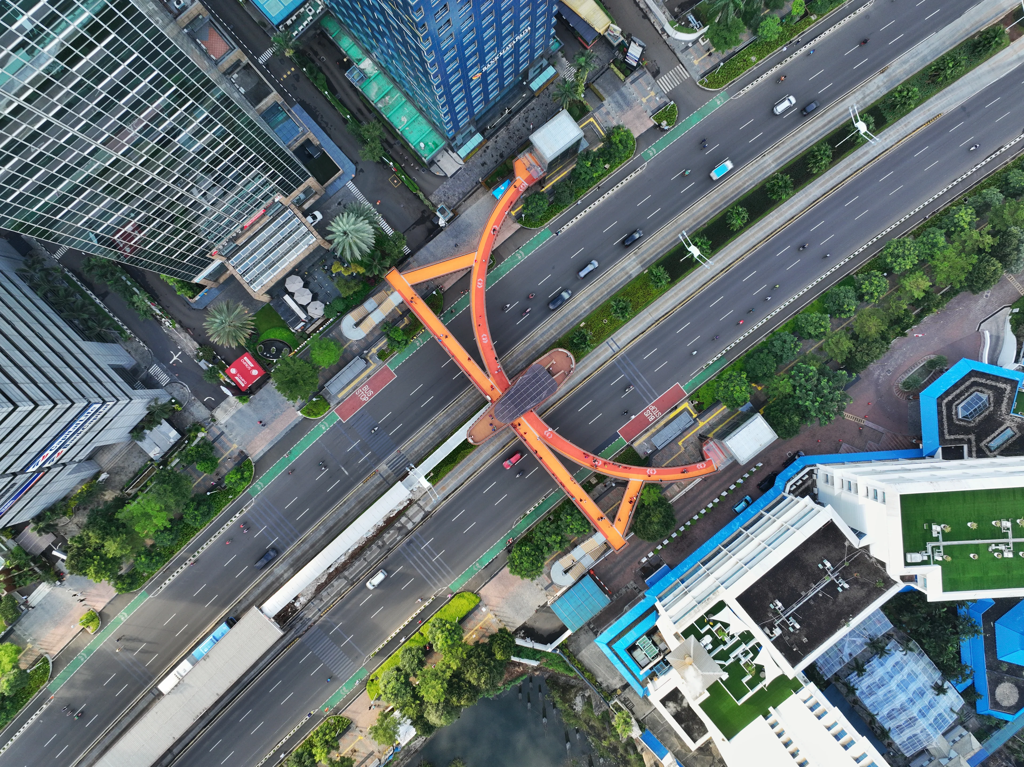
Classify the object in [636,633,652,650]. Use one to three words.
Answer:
cooling tower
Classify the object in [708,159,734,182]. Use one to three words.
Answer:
vehicle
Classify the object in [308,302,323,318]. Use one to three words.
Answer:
umbrella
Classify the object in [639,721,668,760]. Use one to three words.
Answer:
shed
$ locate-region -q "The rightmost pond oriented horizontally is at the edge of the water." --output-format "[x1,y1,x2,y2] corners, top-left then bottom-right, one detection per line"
[391,677,600,767]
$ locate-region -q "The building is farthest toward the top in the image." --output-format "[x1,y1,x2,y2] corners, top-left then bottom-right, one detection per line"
[558,0,612,49]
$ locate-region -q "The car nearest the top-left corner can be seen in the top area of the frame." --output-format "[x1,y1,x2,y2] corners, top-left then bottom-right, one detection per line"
[306,207,326,227]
